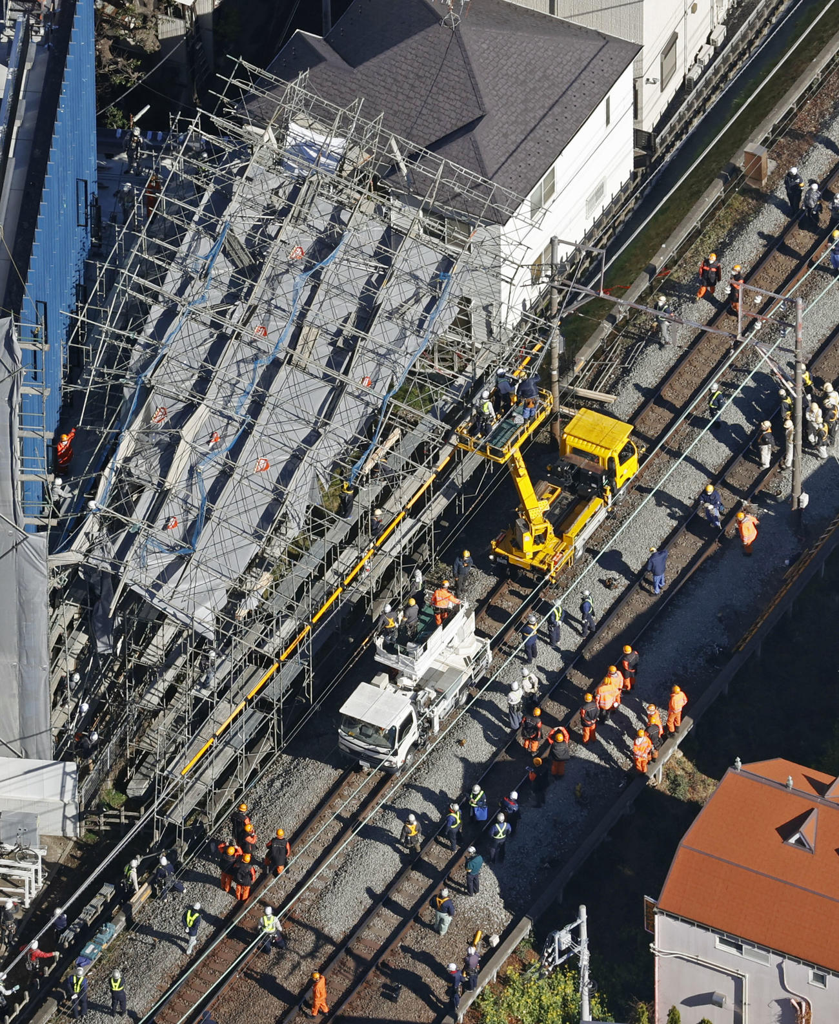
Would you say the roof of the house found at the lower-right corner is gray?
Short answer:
No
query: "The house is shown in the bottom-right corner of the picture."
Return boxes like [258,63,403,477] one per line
[652,739,839,1024]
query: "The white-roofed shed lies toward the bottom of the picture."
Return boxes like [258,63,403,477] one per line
[0,748,72,837]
